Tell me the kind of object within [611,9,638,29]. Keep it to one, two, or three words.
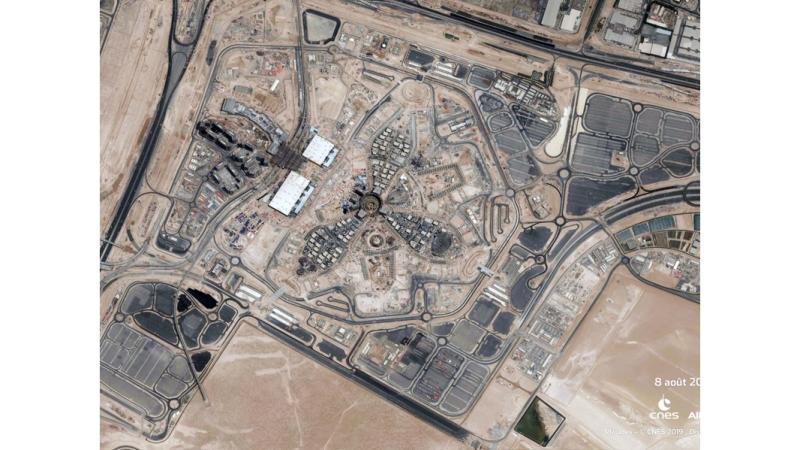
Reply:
building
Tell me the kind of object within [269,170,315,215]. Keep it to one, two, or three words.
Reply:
building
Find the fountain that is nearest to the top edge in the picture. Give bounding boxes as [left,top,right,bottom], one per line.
[368,233,385,249]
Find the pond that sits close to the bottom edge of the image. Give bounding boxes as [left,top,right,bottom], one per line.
[511,394,568,450]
